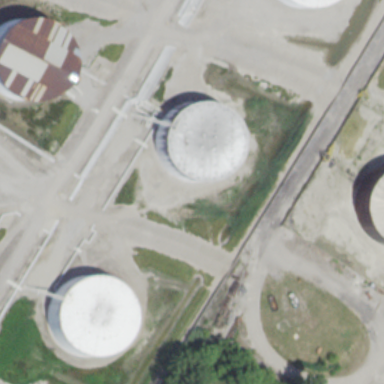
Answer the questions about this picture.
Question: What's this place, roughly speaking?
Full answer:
The area seen from above is an industrial area.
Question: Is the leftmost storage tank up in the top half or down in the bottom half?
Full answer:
It is in the top half that the leftmost storage tank appears.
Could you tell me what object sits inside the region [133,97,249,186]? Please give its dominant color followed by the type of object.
white storage tank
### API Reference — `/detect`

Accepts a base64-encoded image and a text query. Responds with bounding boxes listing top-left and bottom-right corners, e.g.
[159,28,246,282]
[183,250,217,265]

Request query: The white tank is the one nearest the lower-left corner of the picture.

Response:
[23,272,142,362]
